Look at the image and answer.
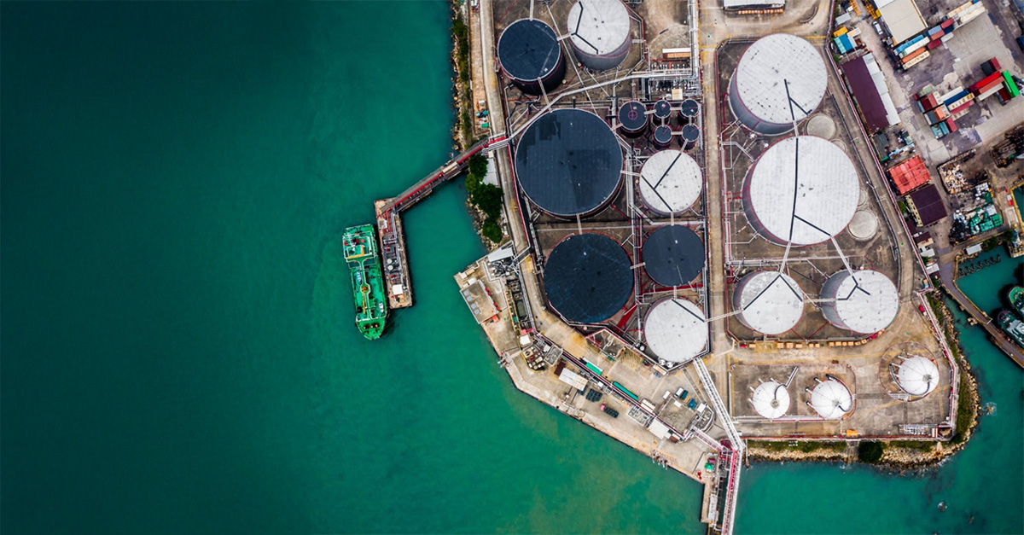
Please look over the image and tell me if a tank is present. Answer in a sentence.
Yes, there's a tank here.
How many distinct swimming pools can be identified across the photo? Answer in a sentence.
I count no swimming pools.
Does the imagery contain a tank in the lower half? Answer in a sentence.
Yes, a tank shows up in the lower half.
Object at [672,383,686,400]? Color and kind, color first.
white vehicle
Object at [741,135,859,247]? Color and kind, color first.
white storage tank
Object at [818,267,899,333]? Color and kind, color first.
white storage tank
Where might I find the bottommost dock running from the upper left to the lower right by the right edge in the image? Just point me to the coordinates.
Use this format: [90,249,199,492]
[942,275,1024,366]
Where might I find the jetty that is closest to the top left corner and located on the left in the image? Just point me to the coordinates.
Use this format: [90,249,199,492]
[374,198,416,309]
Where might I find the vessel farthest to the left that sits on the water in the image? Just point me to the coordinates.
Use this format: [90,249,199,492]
[343,224,388,340]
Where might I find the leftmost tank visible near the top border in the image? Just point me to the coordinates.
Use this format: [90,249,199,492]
[498,19,567,95]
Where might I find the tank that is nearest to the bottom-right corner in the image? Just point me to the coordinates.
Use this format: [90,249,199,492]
[887,350,940,398]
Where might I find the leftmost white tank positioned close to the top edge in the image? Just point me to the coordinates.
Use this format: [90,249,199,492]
[568,0,632,71]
